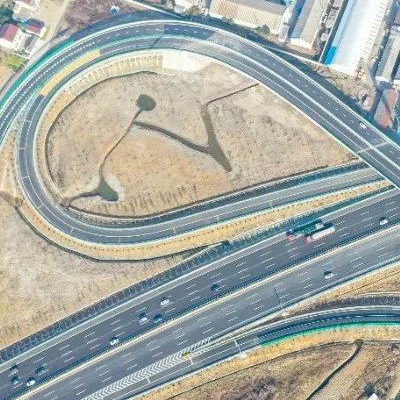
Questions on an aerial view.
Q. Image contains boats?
No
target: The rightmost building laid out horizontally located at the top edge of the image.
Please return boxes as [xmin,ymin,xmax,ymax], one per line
[212,0,288,35]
